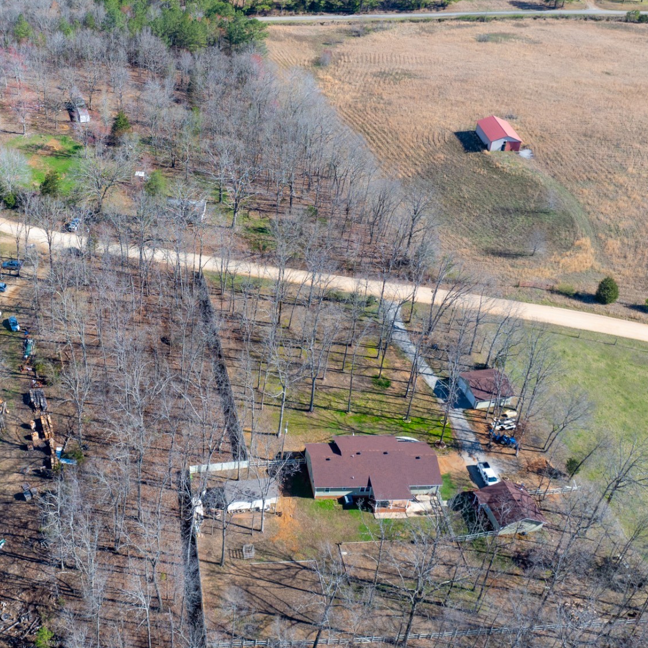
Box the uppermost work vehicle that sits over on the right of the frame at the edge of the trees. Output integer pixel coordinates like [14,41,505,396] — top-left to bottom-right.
[483,426,514,445]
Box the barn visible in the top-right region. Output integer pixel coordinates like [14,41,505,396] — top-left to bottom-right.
[472,116,523,151]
